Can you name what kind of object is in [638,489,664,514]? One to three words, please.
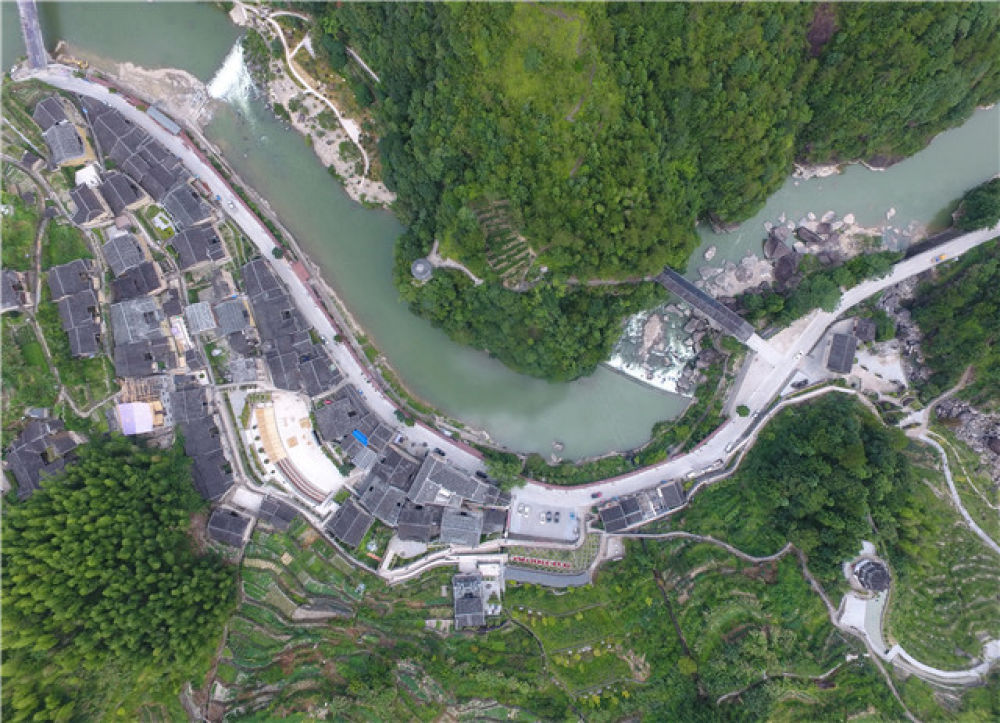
building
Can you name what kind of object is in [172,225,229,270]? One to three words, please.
house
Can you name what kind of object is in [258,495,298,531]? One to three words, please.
house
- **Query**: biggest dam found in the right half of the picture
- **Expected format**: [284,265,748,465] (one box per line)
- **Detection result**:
[596,362,697,400]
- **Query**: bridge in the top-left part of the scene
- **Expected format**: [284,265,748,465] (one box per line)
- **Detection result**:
[14,0,49,70]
